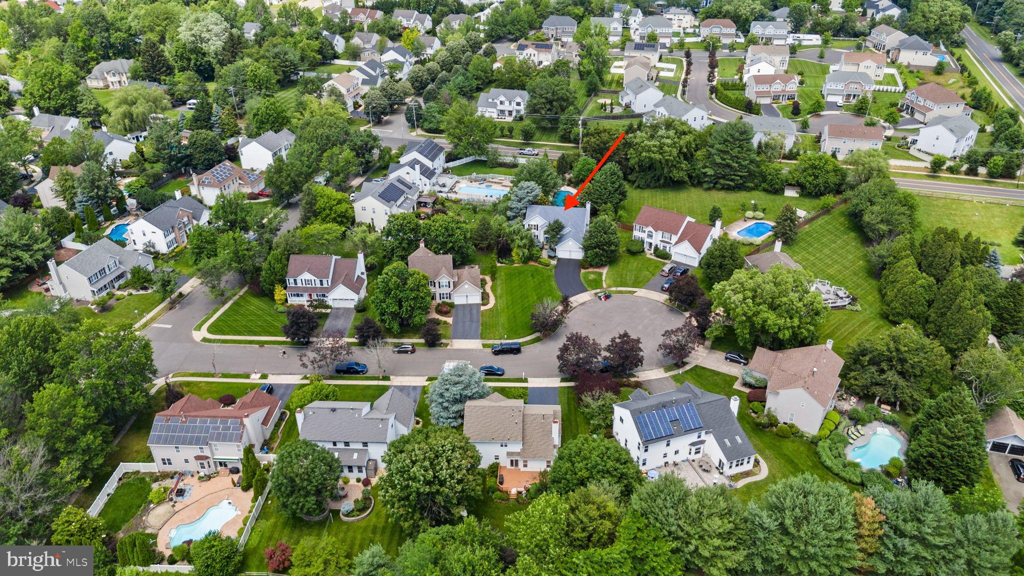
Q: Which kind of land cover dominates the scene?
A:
trees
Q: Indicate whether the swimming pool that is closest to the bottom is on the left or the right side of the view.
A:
left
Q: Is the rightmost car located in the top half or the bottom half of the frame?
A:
bottom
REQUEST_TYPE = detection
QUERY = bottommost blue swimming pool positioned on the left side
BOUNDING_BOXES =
[108,223,130,240]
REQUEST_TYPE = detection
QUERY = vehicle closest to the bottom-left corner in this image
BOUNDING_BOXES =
[258,380,273,396]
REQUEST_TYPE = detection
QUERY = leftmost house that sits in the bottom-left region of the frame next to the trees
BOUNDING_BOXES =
[146,390,288,476]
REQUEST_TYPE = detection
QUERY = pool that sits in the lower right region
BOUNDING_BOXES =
[850,429,902,469]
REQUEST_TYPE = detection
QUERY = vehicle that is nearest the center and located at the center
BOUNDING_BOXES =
[492,340,521,354]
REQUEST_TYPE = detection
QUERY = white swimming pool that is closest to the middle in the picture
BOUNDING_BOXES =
[455,183,510,198]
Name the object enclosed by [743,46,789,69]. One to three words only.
house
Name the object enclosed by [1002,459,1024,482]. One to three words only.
car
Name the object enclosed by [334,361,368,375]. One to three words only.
vehicle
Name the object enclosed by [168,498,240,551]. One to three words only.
swimming pool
